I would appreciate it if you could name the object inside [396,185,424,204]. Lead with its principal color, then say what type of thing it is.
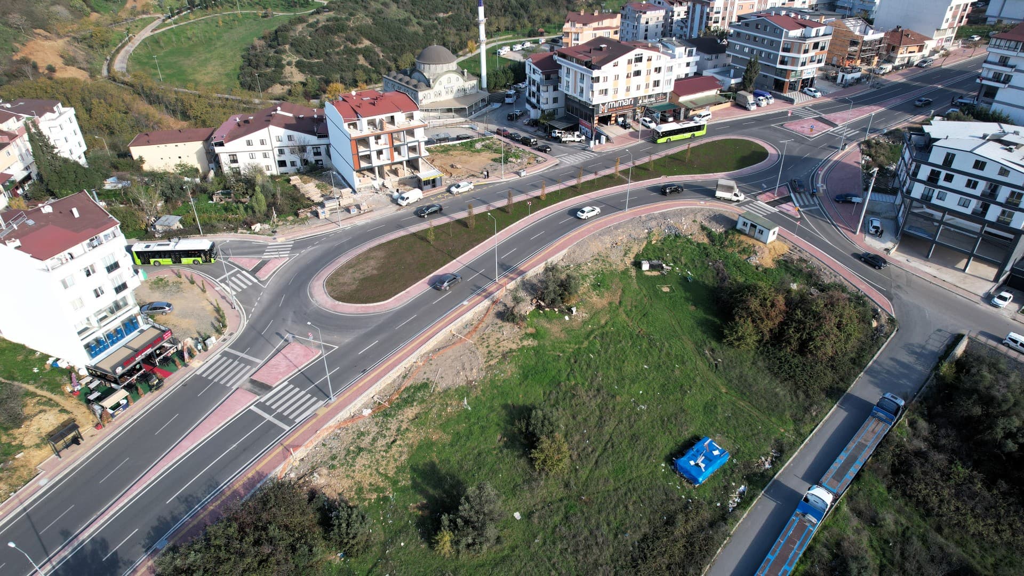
white vehicle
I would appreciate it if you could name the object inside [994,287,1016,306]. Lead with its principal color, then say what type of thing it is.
white car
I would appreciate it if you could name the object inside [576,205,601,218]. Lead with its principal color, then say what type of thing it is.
white vehicle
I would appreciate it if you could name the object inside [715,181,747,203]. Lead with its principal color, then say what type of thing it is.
white truck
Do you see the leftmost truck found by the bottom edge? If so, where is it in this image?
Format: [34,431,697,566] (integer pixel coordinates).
[740,473,843,576]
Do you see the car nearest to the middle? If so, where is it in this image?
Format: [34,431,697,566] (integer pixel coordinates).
[434,271,463,290]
